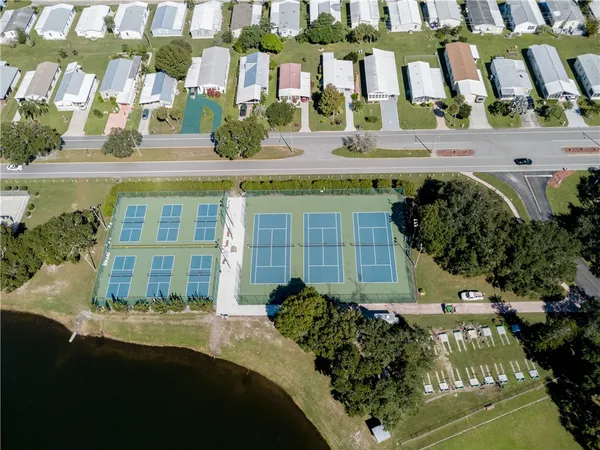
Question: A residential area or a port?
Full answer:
What you see here is a residential area.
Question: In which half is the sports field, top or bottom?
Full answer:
Seen from above, the sports field lies in the bottom half of the view.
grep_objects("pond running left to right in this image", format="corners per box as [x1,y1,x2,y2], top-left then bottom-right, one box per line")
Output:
[0,309,332,450]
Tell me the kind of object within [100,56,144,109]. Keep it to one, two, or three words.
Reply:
house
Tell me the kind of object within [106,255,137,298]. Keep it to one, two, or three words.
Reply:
sports court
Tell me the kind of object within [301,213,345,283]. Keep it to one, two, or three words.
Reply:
tennis court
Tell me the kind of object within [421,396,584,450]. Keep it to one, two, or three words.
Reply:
sports field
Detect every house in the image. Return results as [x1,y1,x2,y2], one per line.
[114,2,148,38]
[141,74,178,108]
[190,2,224,36]
[350,0,379,28]
[408,62,446,103]
[387,0,422,30]
[0,60,21,103]
[100,56,144,109]
[465,0,504,31]
[491,60,533,102]
[186,46,229,93]
[575,56,600,101]
[271,1,300,36]
[75,6,111,37]
[504,0,547,30]
[237,54,270,107]
[323,52,354,95]
[426,0,462,26]
[311,0,342,28]
[15,63,61,103]
[0,9,36,36]
[543,0,587,35]
[56,63,97,107]
[231,4,261,35]
[445,43,486,101]
[35,5,75,37]
[364,49,400,99]
[528,46,578,100]
[279,62,311,101]
[152,2,188,35]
